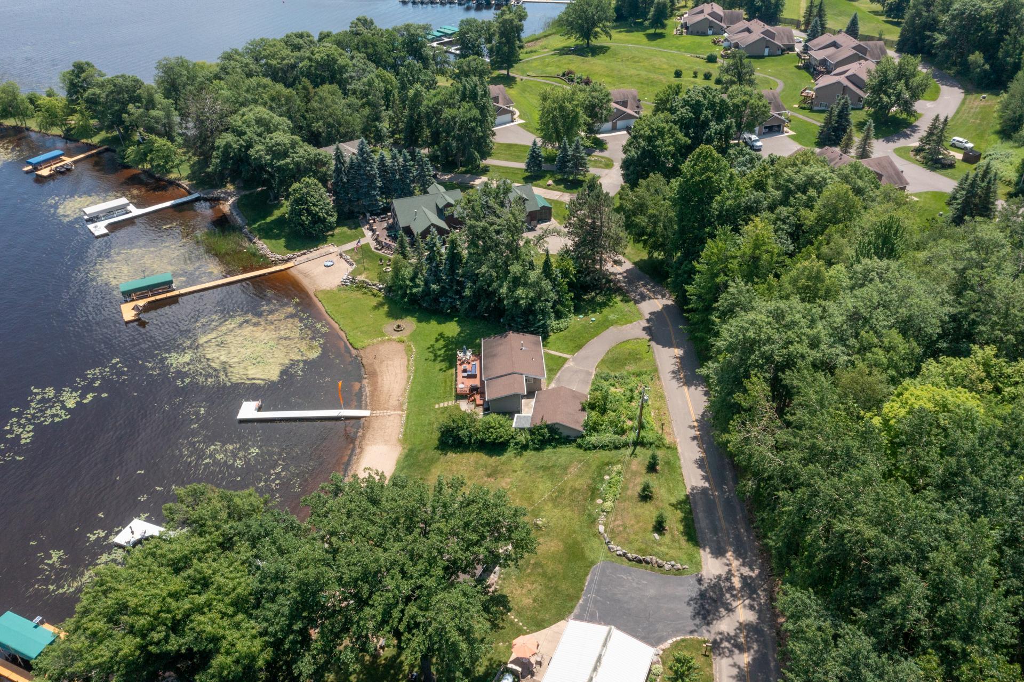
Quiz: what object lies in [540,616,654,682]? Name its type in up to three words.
building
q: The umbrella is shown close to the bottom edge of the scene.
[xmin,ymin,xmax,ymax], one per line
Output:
[511,637,538,664]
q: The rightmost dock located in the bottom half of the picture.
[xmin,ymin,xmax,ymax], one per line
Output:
[237,402,371,422]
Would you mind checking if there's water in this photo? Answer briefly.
Yes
